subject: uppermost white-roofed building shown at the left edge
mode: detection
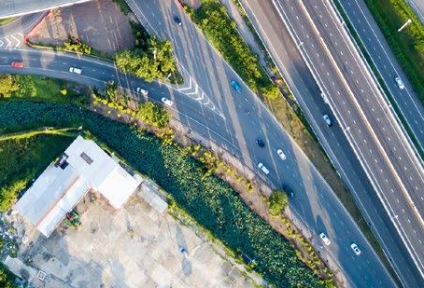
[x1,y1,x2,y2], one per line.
[15,136,142,238]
